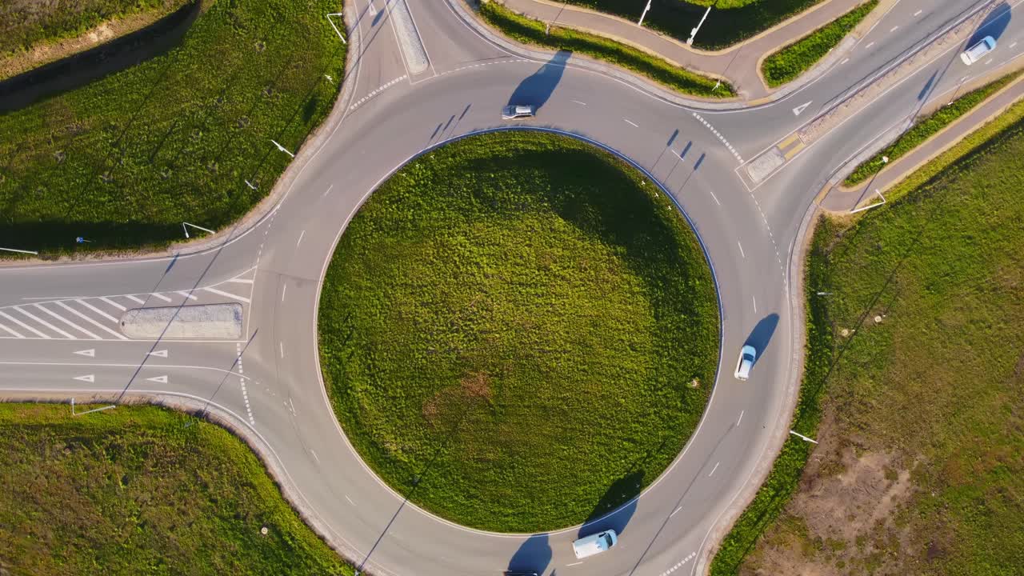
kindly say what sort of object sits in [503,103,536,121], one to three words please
car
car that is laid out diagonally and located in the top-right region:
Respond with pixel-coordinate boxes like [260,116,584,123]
[958,36,996,65]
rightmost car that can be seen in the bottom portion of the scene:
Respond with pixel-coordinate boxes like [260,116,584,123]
[733,344,755,380]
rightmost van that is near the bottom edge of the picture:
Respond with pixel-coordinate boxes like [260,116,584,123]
[571,529,616,559]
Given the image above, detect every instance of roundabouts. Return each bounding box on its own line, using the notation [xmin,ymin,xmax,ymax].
[228,54,792,576]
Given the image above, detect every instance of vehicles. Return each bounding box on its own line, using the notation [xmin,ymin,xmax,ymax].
[958,36,996,65]
[571,529,616,559]
[503,103,536,121]
[733,344,755,380]
[503,570,539,576]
